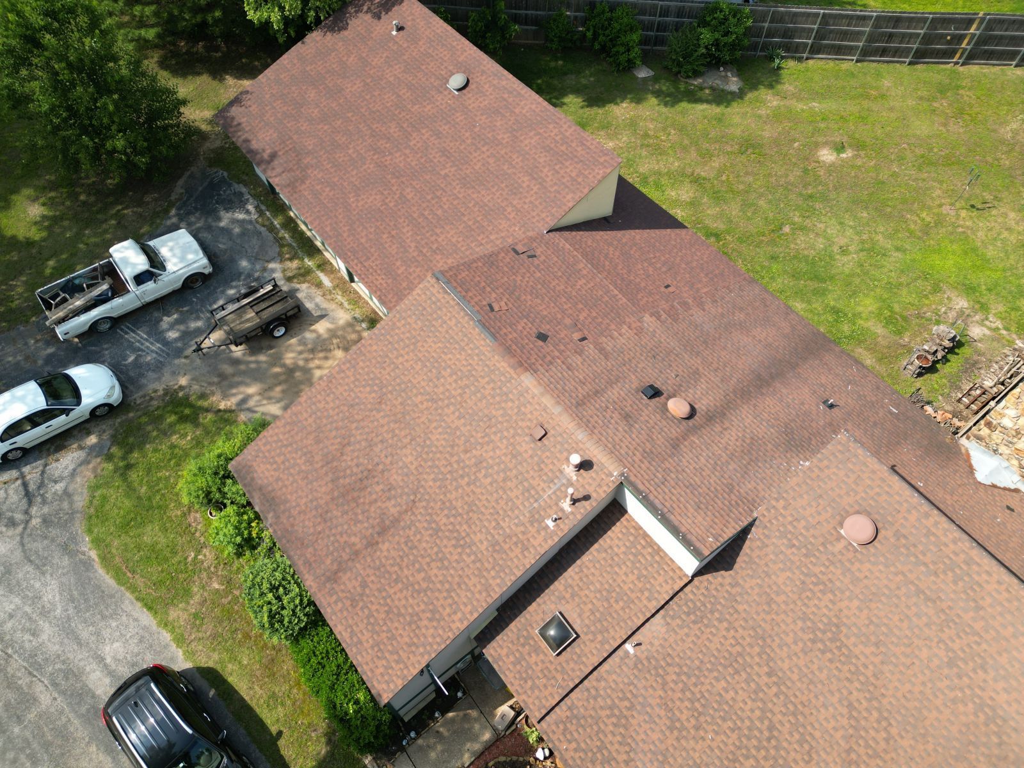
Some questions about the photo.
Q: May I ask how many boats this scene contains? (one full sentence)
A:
The count of boats is 0.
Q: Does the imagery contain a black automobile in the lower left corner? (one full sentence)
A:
Yes, there is a black automobile in the lower left corner.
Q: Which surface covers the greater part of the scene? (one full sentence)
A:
For the most part, this view shows buildings.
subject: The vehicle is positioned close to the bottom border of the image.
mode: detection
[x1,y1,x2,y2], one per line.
[105,666,267,768]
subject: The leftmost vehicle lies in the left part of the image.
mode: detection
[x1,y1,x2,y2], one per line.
[0,362,121,467]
